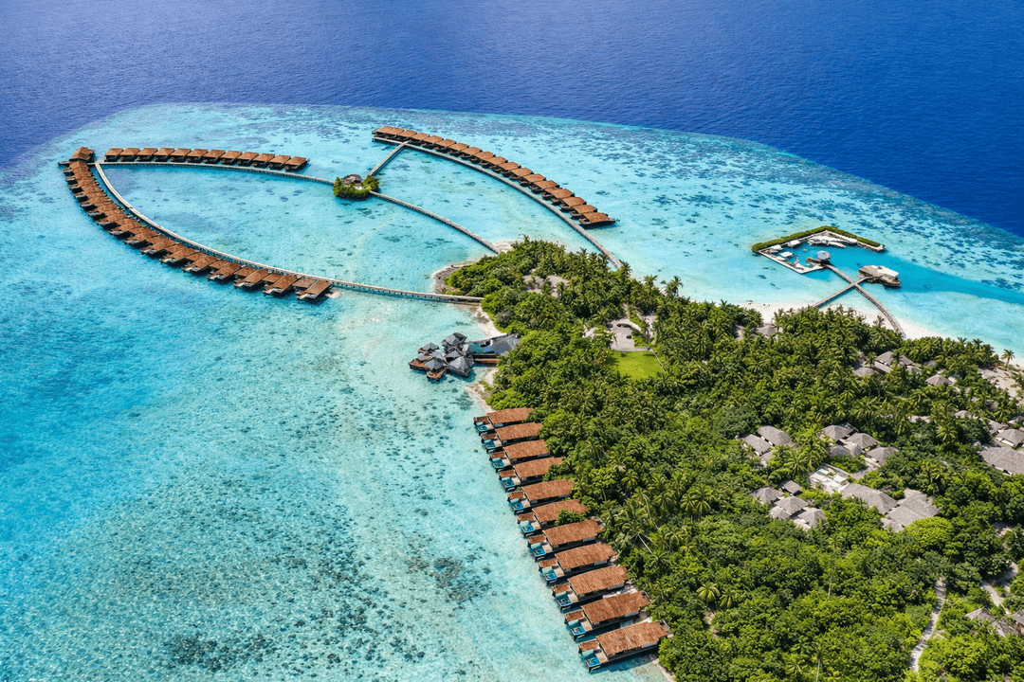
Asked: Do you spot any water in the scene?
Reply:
Yes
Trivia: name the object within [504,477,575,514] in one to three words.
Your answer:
house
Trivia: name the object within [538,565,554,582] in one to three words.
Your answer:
swimming pool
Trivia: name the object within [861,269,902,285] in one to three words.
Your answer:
building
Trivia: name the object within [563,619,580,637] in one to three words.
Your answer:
swimming pool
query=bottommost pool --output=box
[577,650,595,670]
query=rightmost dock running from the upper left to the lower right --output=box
[825,264,907,336]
